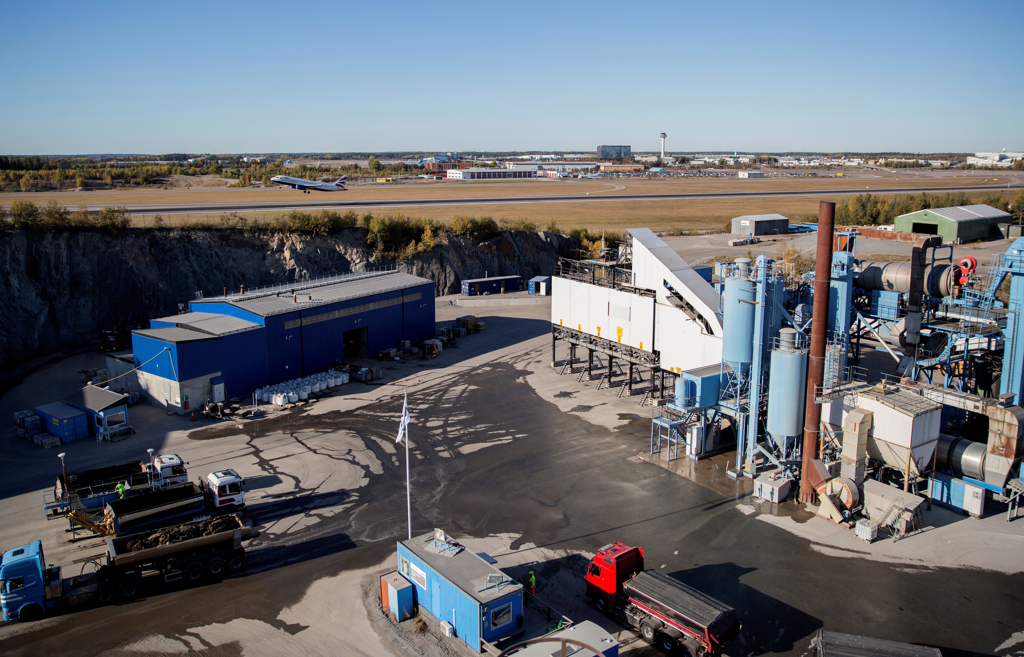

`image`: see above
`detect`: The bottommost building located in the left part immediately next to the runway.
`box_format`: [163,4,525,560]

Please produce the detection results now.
[101,261,437,414]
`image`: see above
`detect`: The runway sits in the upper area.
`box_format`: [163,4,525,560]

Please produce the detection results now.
[1,184,1024,218]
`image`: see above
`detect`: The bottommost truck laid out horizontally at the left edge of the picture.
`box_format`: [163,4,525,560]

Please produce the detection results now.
[0,512,254,626]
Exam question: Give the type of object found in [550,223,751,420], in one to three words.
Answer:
building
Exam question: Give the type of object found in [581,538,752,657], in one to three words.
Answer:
truck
